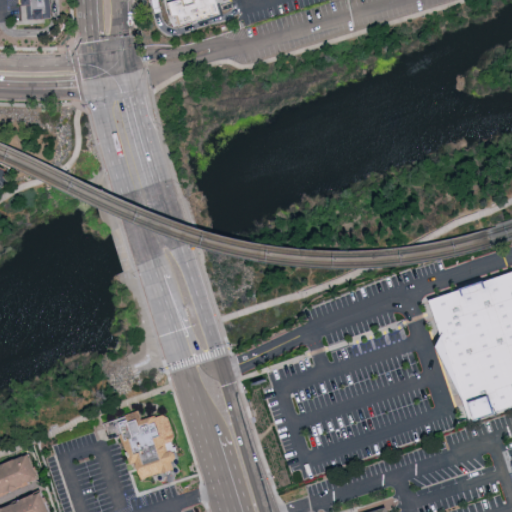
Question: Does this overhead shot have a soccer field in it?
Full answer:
No, no soccer field is visible in the view.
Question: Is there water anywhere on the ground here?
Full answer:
Yes, there's water in this view.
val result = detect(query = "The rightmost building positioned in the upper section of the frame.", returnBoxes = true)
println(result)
[165,0,222,29]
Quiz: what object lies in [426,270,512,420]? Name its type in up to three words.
building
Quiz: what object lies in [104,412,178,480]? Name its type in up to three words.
building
